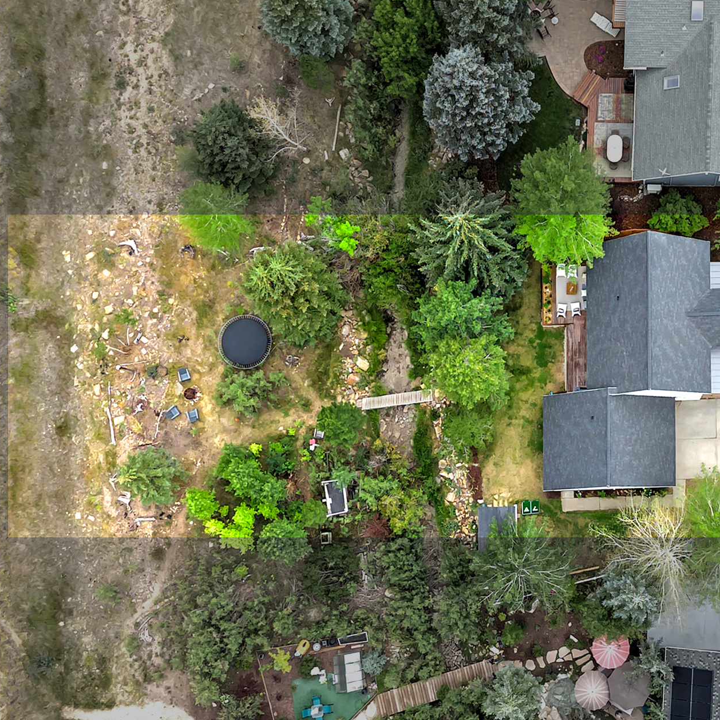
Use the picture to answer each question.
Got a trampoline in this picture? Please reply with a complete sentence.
Yes, a trampoline is visible in the scene.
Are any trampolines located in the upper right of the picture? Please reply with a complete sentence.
No, in the upper right of the picture there is no trampoline.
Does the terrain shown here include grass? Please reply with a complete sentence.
Yes, grass shows up in the scene.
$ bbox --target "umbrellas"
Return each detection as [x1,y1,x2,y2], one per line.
[592,631,630,667]
[575,673,610,709]
[607,662,652,706]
